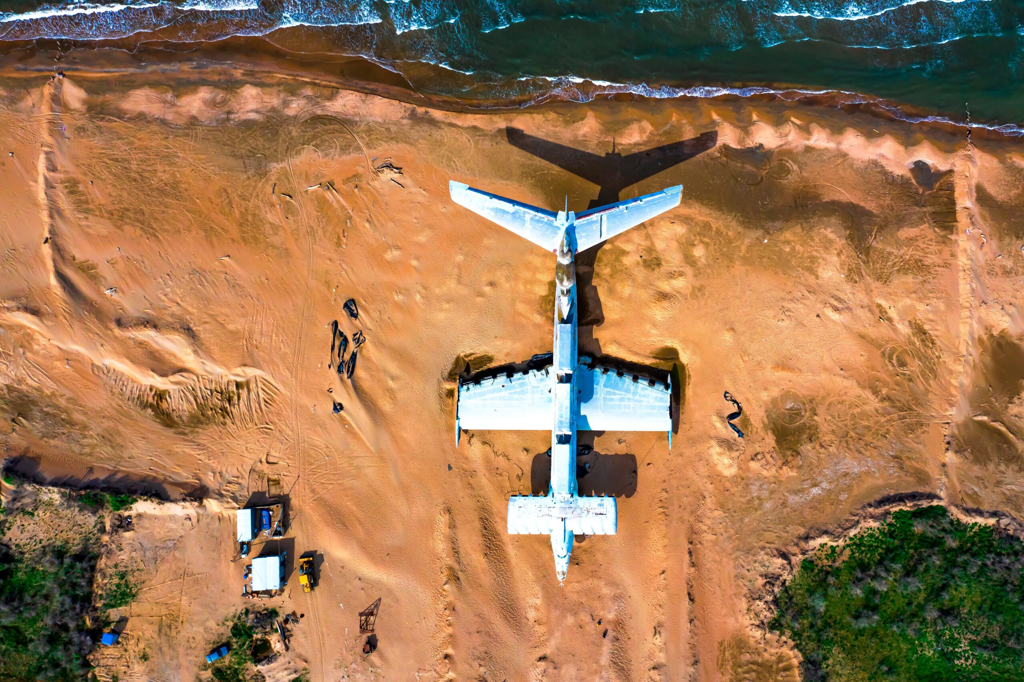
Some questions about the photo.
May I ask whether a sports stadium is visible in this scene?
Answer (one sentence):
No, the scene contains no sports stadium.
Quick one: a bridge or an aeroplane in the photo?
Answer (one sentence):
The one in the frame is an aeroplane.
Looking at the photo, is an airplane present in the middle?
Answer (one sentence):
Yes, looking in the middle, one can make out an airplane.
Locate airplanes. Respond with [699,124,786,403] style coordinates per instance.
[454,181,684,592]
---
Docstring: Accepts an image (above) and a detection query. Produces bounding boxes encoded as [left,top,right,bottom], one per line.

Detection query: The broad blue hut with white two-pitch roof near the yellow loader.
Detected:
[252,553,284,590]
